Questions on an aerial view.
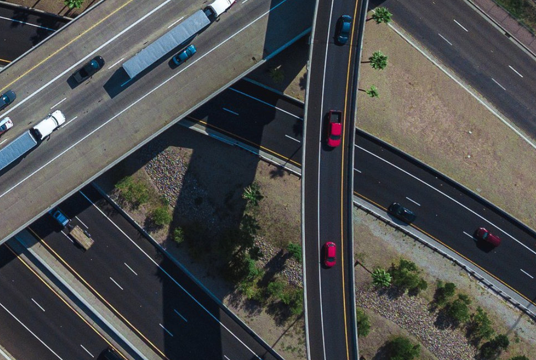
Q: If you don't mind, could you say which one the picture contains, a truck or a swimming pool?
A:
truck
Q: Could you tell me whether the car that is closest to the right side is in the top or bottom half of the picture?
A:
bottom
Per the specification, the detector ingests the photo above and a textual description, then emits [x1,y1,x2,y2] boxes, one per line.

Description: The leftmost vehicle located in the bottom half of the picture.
[47,206,91,247]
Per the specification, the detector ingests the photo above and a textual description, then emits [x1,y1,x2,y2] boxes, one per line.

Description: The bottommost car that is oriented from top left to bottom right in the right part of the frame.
[474,227,500,247]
